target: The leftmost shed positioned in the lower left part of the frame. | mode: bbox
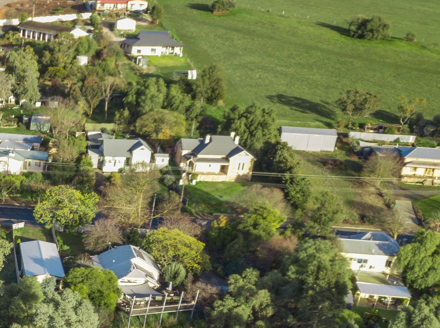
[20,232,65,304]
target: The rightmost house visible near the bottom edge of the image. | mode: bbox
[327,213,411,320]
